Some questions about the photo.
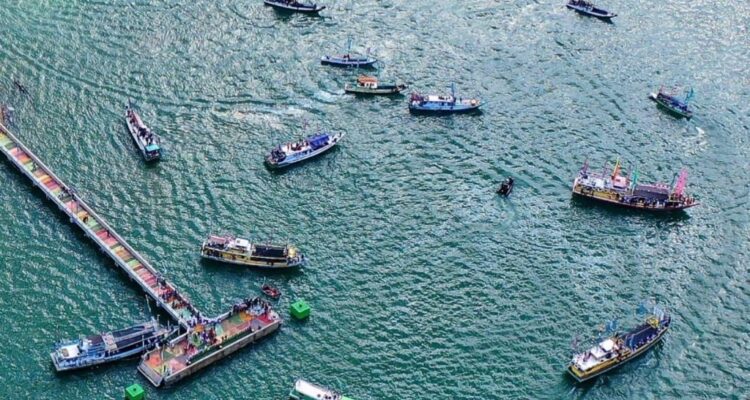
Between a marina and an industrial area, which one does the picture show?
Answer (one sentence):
What you see here is a marina.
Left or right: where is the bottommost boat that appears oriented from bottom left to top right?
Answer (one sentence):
You can find the bottommost boat that appears oriented from bottom left to top right on the right side of the picture.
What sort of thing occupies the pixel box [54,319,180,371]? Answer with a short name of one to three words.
boat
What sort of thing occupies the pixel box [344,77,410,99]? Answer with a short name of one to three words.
boat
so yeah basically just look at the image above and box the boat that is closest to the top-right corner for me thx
[647,86,695,119]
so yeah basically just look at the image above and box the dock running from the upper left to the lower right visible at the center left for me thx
[0,125,211,332]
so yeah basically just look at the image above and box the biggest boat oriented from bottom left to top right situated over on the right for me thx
[565,303,672,379]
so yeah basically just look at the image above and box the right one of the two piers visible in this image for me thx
[136,295,280,390]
